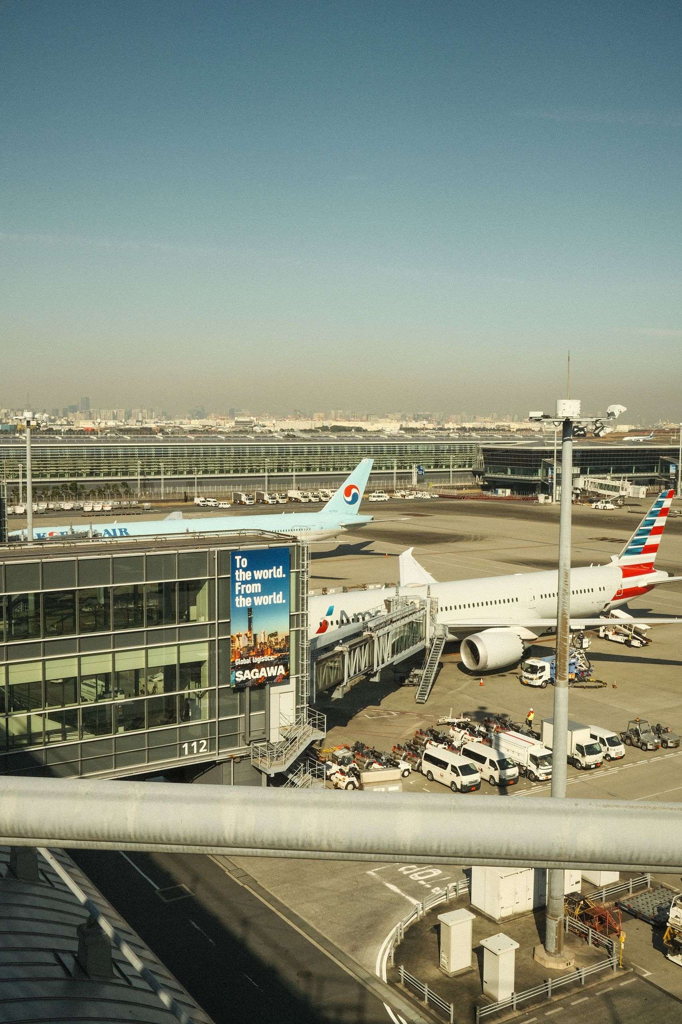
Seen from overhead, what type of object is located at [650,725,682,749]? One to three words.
work vehicle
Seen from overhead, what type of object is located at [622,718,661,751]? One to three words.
work vehicle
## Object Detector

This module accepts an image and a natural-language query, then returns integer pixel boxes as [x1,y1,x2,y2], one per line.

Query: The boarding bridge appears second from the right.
[299,581,447,708]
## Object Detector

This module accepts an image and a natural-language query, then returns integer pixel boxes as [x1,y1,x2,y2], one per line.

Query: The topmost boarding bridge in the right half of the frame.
[570,475,642,507]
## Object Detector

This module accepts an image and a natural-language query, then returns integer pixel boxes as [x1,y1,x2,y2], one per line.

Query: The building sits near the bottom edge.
[0,852,216,1024]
